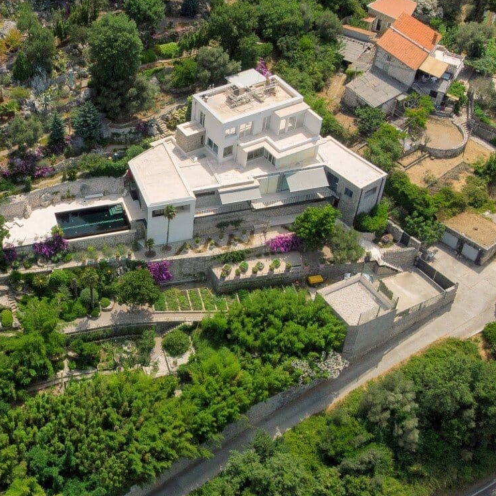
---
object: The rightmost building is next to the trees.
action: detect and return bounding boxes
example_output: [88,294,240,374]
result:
[440,211,496,264]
